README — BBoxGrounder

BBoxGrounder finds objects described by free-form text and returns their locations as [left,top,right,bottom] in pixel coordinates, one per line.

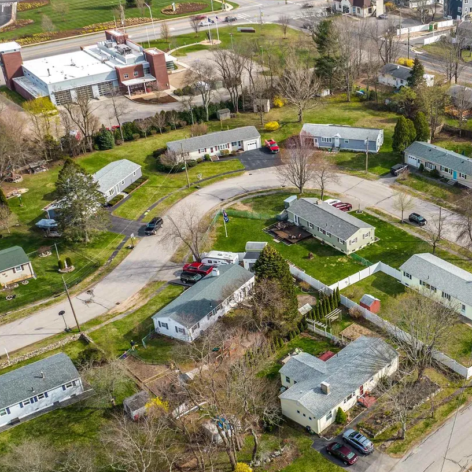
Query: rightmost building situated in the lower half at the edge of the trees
[399,255,472,319]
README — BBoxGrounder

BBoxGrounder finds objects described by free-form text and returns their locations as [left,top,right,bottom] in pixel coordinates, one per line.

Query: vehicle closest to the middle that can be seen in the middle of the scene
[202,248,240,268]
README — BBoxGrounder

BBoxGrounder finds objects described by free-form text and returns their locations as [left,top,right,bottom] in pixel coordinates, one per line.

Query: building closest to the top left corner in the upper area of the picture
[0,28,187,112]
